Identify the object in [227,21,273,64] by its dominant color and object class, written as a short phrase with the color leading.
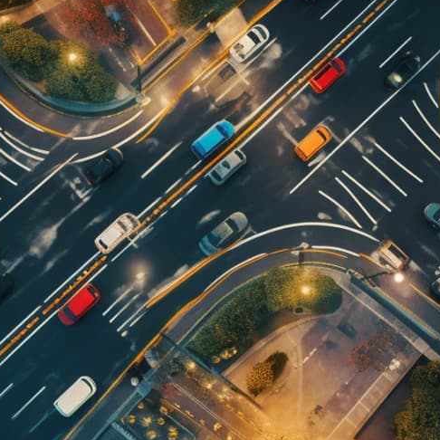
white car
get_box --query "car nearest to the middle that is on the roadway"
[196,207,253,260]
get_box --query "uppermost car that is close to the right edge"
[380,49,424,91]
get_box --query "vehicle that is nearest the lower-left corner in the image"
[52,372,100,420]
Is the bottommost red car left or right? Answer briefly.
left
